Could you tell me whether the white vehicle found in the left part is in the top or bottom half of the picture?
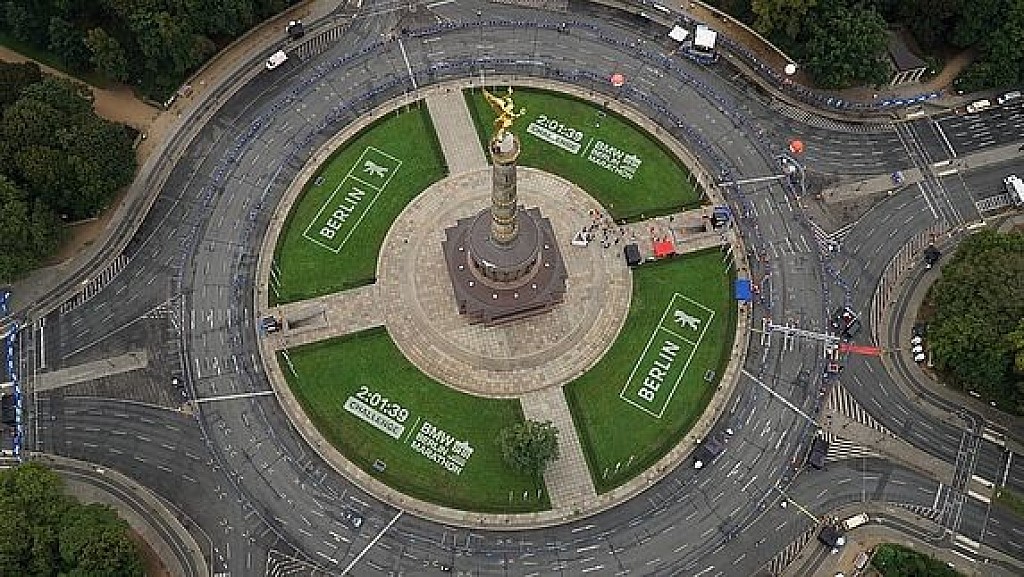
top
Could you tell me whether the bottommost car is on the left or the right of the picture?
right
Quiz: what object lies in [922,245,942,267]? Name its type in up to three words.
vehicle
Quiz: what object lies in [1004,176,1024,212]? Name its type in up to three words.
vehicle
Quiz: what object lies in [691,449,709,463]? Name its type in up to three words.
car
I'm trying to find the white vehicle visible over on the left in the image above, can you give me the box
[265,50,289,71]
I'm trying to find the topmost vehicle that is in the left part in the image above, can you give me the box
[286,24,306,39]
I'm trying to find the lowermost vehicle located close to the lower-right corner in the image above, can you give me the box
[851,549,871,571]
